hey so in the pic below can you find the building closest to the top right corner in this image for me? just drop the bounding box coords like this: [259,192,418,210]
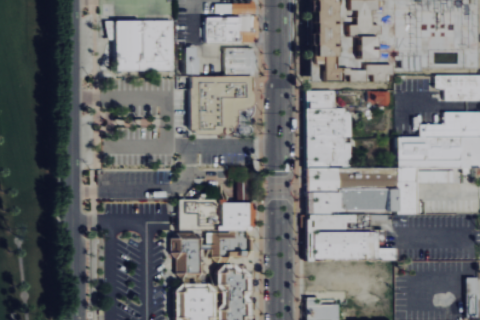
[431,75,480,102]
